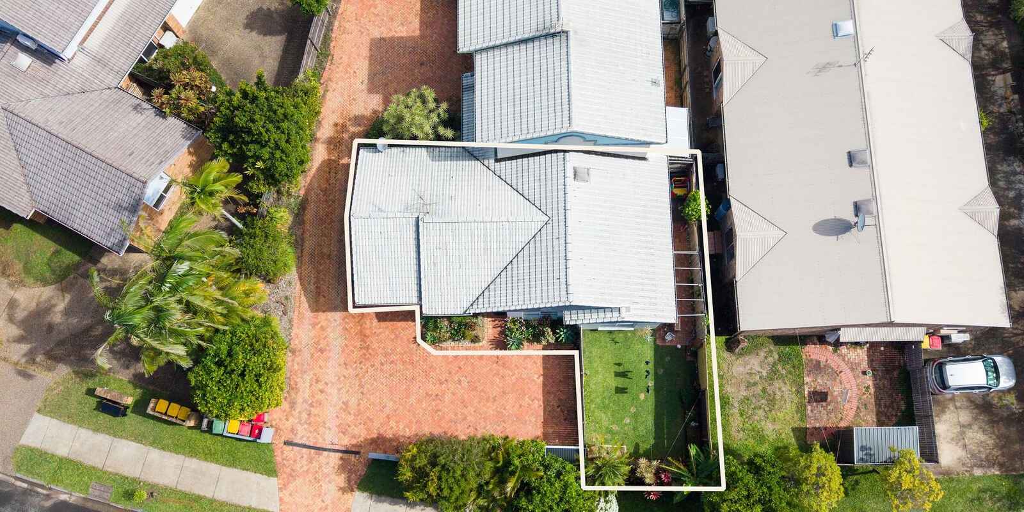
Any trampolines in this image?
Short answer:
No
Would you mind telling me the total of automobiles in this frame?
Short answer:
one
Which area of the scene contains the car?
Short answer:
bottom right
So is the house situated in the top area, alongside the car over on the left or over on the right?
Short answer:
right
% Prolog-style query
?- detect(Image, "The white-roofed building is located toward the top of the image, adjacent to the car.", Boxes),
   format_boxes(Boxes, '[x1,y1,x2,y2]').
[708,0,1010,345]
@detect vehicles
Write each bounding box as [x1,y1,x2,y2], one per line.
[920,352,1016,396]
